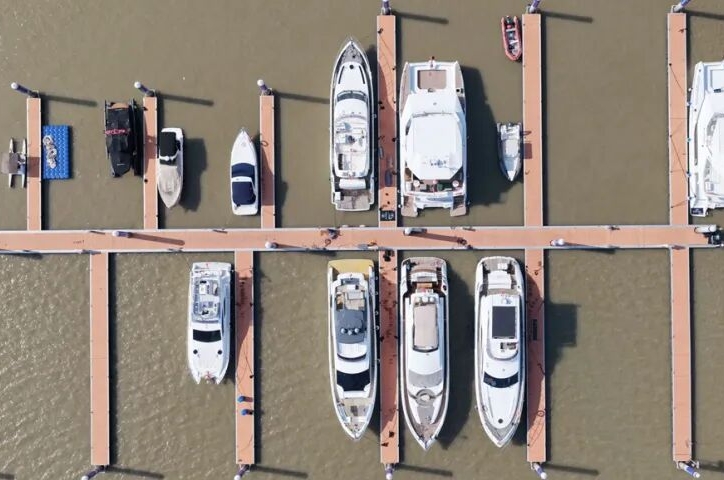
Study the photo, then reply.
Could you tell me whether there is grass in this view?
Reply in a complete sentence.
No, the scene doesn't show any grass.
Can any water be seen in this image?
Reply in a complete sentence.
Yes, there is water in the image.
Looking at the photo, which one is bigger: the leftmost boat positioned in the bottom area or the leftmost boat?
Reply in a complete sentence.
The leftmost boat positioned in the bottom area is bigger than the leftmost boat.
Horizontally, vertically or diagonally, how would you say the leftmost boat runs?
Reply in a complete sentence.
In this picture, the leftmost boat lies vertically.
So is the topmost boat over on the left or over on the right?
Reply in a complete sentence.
You can find the topmost boat on the right side of the picture.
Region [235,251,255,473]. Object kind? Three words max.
pier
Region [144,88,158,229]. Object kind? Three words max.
pier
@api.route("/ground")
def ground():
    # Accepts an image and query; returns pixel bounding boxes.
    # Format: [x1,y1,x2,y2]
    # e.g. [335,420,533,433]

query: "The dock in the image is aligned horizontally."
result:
[0,226,707,252]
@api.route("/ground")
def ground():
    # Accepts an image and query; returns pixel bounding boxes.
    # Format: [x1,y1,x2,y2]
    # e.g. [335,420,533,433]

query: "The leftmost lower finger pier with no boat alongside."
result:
[90,252,110,474]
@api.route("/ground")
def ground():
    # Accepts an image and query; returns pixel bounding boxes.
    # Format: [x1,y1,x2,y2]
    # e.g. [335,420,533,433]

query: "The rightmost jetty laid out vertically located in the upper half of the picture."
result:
[666,4,689,226]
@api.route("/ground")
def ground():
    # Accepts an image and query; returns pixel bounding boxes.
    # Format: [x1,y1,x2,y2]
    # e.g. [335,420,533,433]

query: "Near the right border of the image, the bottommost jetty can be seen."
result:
[670,247,691,469]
